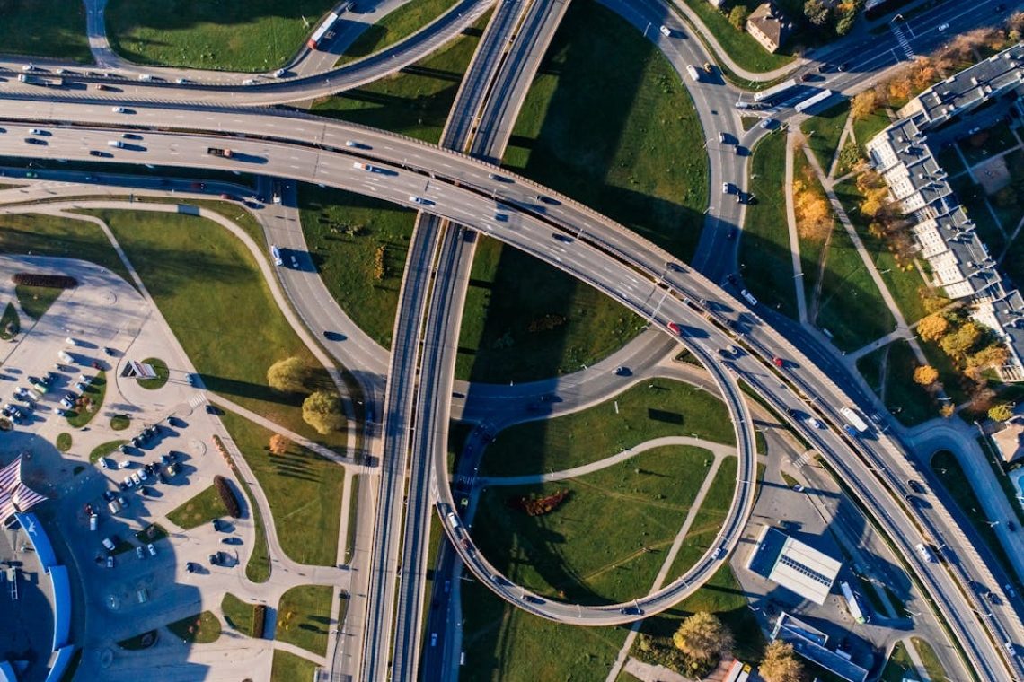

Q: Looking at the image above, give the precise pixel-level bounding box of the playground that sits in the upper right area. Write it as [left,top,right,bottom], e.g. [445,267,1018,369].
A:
[973,156,1011,195]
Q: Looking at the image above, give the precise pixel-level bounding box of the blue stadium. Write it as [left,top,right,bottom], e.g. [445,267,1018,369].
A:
[0,488,78,682]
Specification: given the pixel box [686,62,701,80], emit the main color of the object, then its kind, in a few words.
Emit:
white vehicle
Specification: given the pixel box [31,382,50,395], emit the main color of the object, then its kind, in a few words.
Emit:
white vehicle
